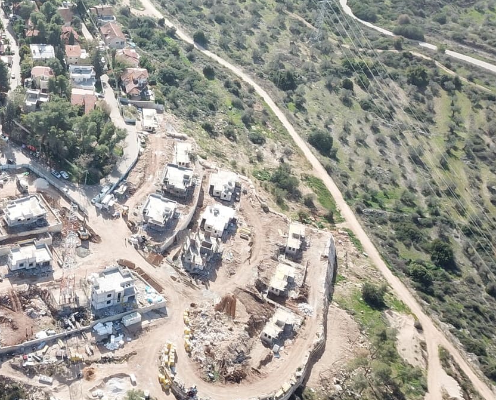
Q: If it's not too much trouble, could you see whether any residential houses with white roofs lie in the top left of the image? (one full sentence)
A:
Yes, the scene does show a residential house with a white roof in the top left of the image.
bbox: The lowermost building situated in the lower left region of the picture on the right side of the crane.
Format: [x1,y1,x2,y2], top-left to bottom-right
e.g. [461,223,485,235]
[116,307,151,328]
